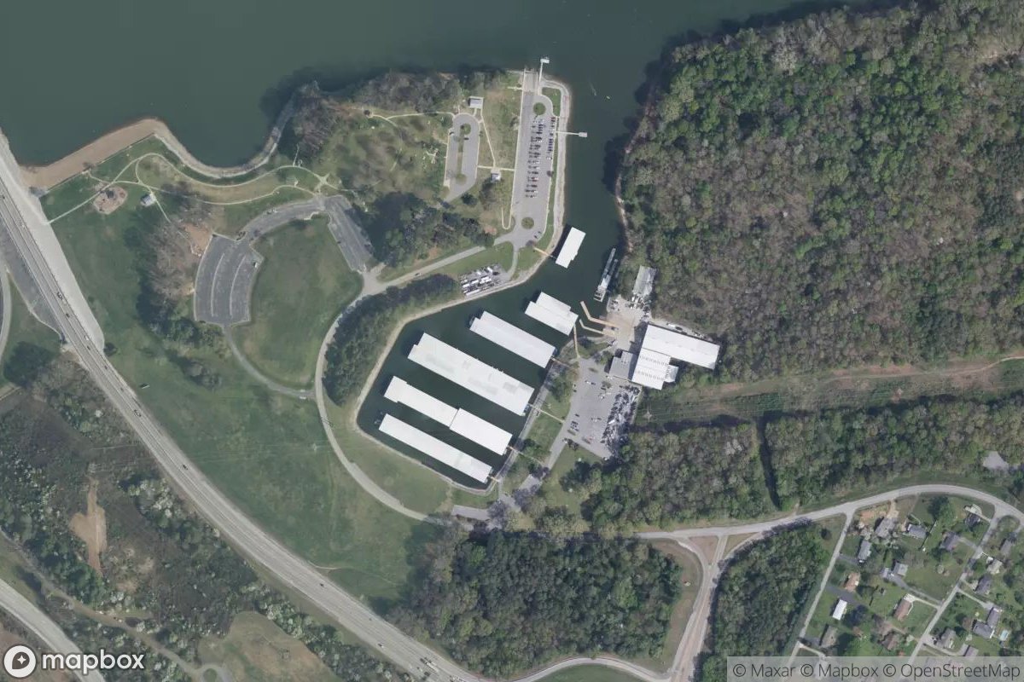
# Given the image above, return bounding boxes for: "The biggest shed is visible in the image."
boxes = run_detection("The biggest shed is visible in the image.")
[643,324,720,369]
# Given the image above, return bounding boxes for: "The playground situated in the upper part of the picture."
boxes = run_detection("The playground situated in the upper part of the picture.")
[94,186,127,214]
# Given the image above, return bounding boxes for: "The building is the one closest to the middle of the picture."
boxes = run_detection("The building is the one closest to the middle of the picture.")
[609,351,637,380]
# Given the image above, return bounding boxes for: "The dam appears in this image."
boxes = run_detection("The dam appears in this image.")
[0,131,105,352]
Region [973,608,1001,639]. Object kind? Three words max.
house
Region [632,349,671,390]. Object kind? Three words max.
shed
